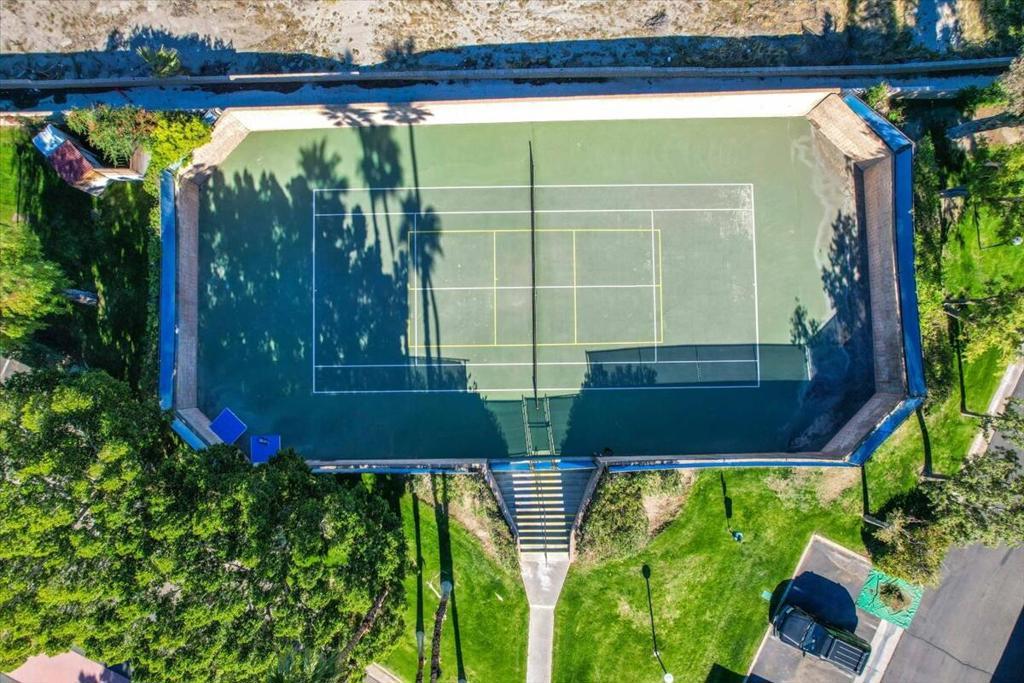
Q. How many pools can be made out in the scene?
0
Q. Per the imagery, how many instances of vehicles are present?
1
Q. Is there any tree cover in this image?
Yes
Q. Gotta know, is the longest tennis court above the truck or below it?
above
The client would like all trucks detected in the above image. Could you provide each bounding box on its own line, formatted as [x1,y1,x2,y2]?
[764,595,880,681]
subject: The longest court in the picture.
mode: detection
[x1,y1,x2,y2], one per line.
[196,117,875,462]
